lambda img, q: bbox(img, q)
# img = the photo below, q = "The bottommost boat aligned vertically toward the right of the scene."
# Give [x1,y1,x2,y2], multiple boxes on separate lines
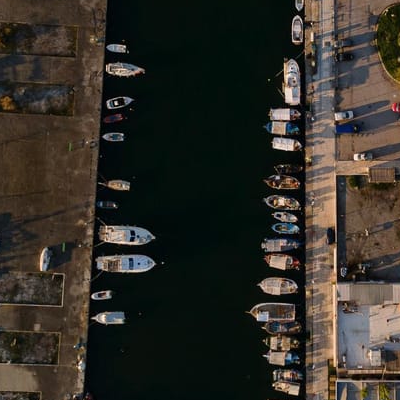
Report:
[278,52,302,104]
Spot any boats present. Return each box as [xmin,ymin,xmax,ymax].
[269,107,304,120]
[104,96,134,110]
[262,320,307,335]
[294,0,304,11]
[272,212,305,223]
[89,290,112,301]
[262,196,306,211]
[256,278,304,296]
[271,223,305,235]
[262,337,300,353]
[89,312,126,326]
[246,303,308,323]
[96,201,118,209]
[271,137,303,151]
[102,62,145,76]
[274,164,307,173]
[93,253,156,279]
[260,239,305,254]
[271,382,307,400]
[100,176,130,191]
[263,121,305,135]
[96,220,156,245]
[103,113,125,123]
[291,14,303,47]
[262,352,300,368]
[101,132,125,141]
[262,174,305,190]
[263,255,306,273]
[105,43,127,52]
[278,52,302,104]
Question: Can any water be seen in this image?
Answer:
Yes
